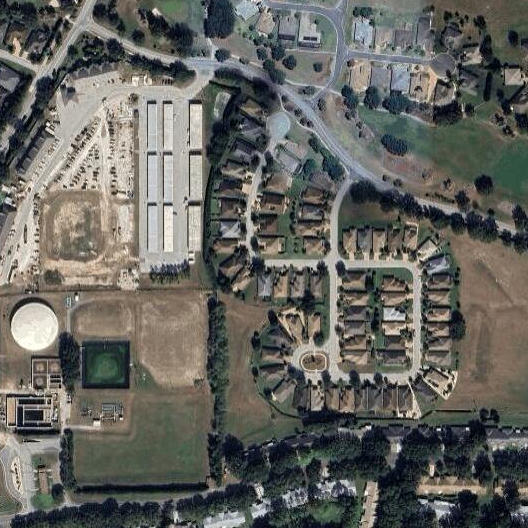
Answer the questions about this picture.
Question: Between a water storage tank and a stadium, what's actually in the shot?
water storage tank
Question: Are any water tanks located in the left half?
Yes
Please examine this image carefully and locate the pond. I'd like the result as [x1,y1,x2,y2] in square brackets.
[83,340,131,388]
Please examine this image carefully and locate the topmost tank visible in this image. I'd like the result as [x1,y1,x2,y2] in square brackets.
[10,303,59,351]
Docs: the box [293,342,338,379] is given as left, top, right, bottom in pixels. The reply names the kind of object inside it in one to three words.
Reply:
roundabout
